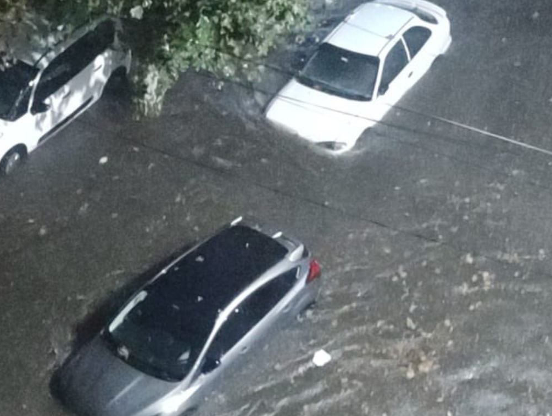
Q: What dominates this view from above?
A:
water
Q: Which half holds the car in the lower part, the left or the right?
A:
left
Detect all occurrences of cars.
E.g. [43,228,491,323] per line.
[0,10,131,175]
[54,218,315,416]
[258,0,445,155]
